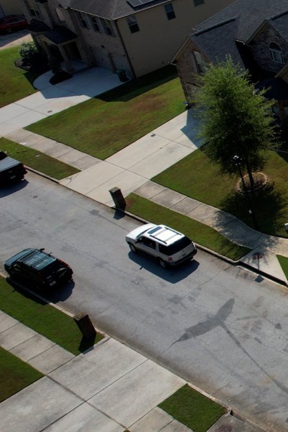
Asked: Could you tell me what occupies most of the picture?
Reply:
paved ground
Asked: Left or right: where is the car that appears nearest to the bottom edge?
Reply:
left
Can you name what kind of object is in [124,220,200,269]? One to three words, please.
car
